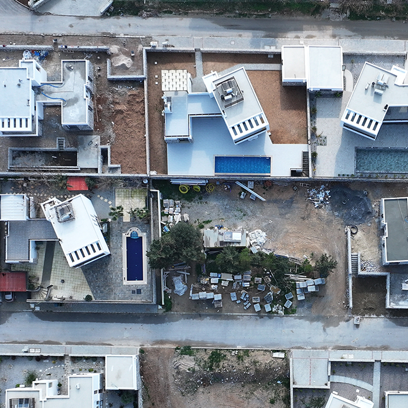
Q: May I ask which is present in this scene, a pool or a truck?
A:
pool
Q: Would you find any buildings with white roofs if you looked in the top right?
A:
Yes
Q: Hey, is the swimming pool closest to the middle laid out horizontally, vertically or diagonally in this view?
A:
horizontally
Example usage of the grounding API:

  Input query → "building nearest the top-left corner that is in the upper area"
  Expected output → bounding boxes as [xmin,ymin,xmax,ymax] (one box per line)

[0,60,92,139]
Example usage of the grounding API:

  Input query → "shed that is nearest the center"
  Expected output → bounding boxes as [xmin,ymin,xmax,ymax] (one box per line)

[203,228,247,247]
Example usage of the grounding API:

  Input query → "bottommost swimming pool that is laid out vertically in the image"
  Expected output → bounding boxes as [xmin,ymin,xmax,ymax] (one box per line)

[123,226,147,284]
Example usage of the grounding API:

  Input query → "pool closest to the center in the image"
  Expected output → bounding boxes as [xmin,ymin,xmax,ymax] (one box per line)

[214,152,273,175]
